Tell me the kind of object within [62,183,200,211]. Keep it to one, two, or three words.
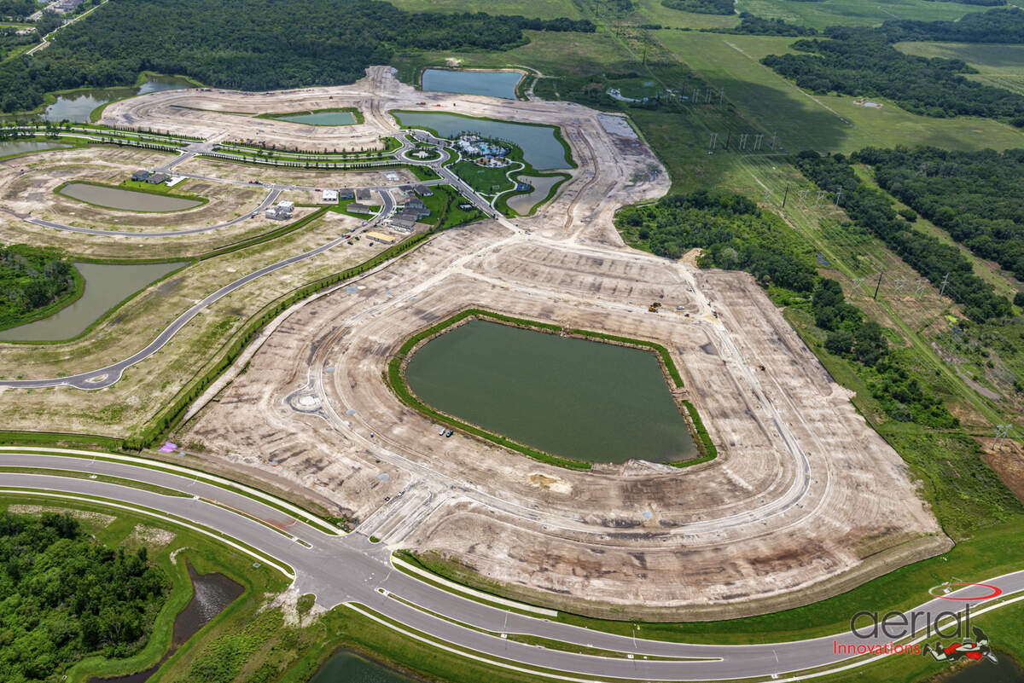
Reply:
pond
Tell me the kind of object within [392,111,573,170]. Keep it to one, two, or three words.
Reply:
pond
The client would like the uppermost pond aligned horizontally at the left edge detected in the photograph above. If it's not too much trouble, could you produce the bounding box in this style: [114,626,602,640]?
[0,75,197,122]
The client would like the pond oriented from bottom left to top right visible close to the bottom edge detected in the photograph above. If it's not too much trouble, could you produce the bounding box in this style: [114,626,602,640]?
[87,563,243,683]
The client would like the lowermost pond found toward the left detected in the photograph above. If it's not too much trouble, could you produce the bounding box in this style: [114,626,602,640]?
[307,649,420,683]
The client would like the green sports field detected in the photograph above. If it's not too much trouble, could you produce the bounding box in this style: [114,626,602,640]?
[453,160,517,193]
